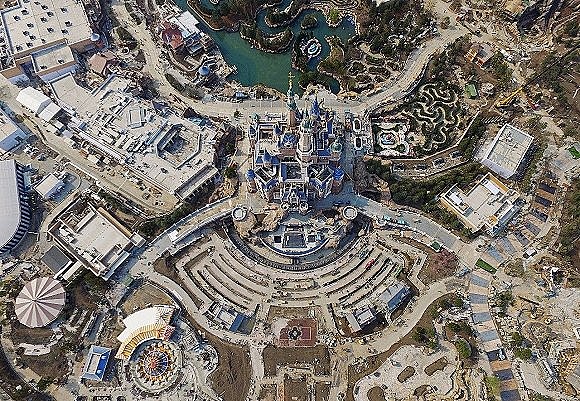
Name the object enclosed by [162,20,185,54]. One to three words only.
house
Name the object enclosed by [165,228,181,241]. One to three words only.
vehicle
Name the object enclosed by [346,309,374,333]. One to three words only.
building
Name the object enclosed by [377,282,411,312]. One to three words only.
building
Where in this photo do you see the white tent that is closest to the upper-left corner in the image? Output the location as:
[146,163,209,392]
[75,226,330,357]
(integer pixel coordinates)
[16,87,52,115]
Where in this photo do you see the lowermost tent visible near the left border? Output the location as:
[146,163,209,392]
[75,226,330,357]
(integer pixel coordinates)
[15,277,67,328]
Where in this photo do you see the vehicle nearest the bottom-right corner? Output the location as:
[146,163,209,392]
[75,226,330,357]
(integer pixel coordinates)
[496,347,508,362]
